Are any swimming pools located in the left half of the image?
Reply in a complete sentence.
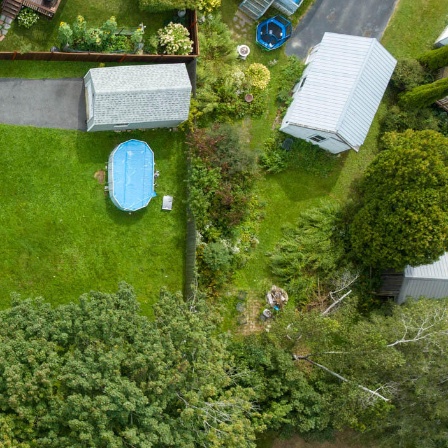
Yes, the scene does show a swimming pool in the left half of the image.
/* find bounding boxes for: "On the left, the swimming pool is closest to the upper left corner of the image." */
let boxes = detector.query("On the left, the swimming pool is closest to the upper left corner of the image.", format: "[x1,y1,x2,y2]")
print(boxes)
[103,139,158,213]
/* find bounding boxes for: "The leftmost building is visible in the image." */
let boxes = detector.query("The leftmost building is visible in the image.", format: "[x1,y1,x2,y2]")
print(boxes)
[85,63,192,130]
